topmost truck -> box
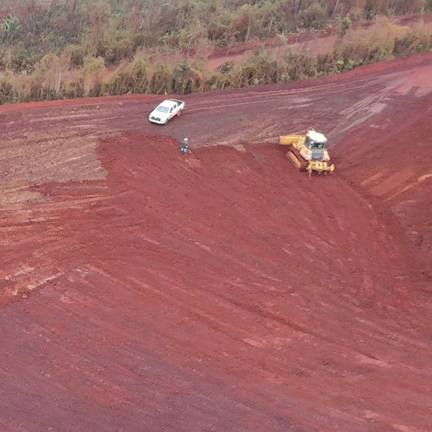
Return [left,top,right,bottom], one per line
[150,99,188,123]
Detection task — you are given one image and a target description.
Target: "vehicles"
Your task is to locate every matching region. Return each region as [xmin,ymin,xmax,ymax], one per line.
[150,99,188,123]
[279,128,330,172]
